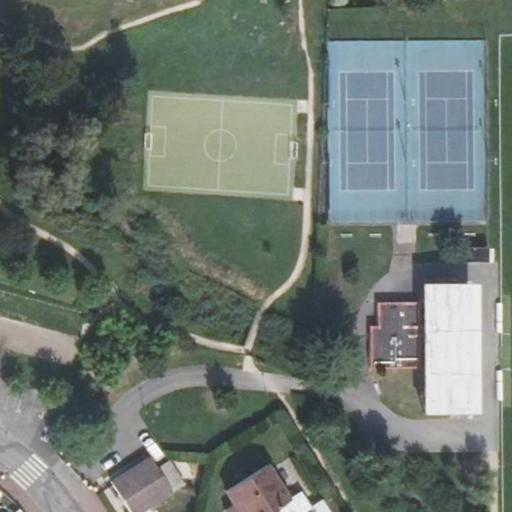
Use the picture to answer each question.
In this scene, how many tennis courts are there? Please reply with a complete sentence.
The number of tennis courts here is 2.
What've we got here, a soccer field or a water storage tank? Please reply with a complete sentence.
Looking from above, you can make out a soccer field.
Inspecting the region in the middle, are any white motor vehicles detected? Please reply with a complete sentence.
No, there's no white motor vehicle to be seen in the middle.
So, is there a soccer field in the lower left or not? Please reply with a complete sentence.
No, looking in the lower left, there is no soccer field.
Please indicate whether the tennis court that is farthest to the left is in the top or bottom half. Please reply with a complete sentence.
The top half of the photo is where the tennis court that is farthest to the left is.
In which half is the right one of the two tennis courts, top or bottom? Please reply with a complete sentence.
It is in the top half that the right one of the two tennis courts appears.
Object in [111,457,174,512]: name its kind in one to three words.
house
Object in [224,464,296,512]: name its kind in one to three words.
house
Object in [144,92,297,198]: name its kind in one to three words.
soccer field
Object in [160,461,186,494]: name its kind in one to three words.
building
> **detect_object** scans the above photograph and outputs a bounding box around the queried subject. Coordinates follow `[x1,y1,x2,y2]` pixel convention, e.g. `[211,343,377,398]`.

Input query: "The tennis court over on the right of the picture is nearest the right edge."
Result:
[406,40,486,222]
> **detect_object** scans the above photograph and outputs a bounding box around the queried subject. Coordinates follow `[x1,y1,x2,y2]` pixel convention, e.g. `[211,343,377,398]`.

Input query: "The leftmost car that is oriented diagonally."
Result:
[100,454,121,473]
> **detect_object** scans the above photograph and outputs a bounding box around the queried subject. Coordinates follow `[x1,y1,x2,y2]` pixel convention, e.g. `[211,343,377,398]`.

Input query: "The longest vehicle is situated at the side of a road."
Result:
[138,432,164,464]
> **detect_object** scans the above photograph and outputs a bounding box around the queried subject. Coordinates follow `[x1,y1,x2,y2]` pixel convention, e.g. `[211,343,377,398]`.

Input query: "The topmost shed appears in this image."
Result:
[464,248,490,262]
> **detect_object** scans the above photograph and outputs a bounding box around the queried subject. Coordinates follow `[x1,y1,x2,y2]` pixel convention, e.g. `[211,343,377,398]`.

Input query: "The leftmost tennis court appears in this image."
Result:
[328,40,406,222]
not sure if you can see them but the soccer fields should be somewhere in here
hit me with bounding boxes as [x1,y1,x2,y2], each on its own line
[501,36,512,512]
[144,92,297,198]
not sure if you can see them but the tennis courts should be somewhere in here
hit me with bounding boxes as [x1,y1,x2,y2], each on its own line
[406,40,486,222]
[328,40,406,222]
